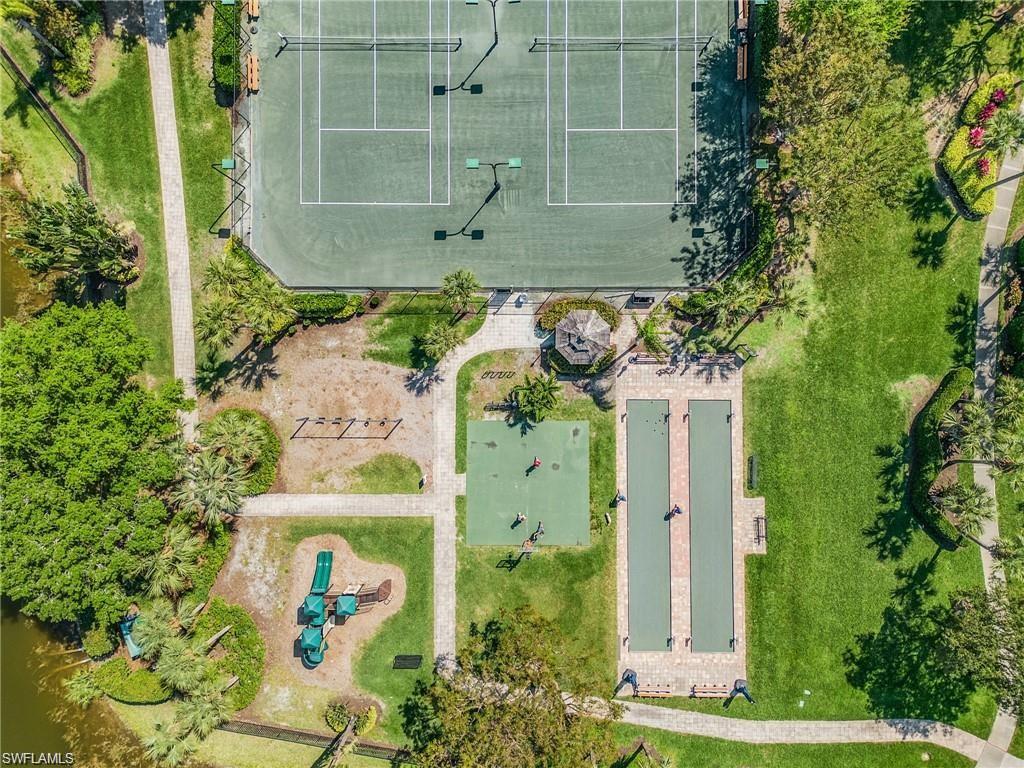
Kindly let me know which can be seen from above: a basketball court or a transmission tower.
basketball court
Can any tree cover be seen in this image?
Yes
